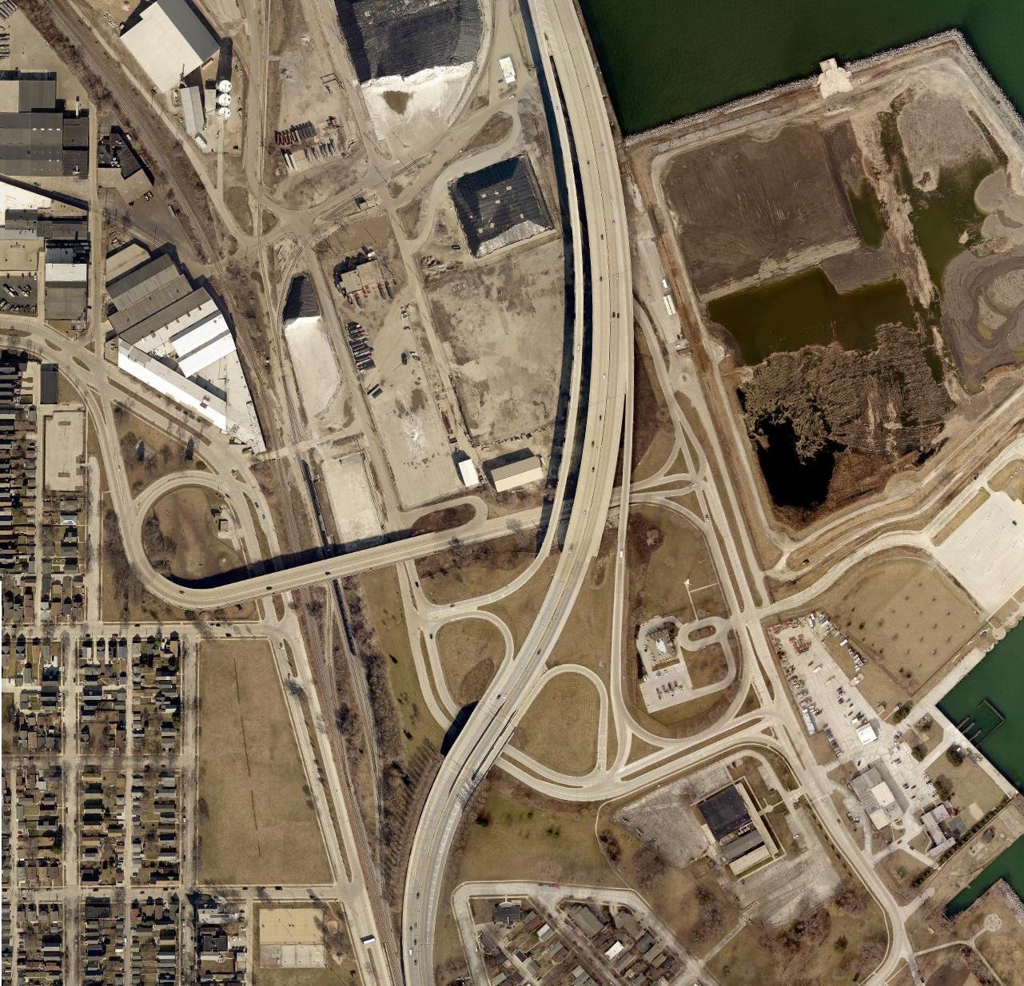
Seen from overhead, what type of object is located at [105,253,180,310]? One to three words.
shed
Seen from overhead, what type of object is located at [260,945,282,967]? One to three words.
tennis court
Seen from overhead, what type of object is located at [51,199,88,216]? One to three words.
building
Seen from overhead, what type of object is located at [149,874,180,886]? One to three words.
house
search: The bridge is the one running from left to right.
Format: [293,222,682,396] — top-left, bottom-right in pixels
[125,521,450,608]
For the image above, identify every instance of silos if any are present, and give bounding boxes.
[216,92,231,106]
[216,105,230,120]
[217,78,231,93]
